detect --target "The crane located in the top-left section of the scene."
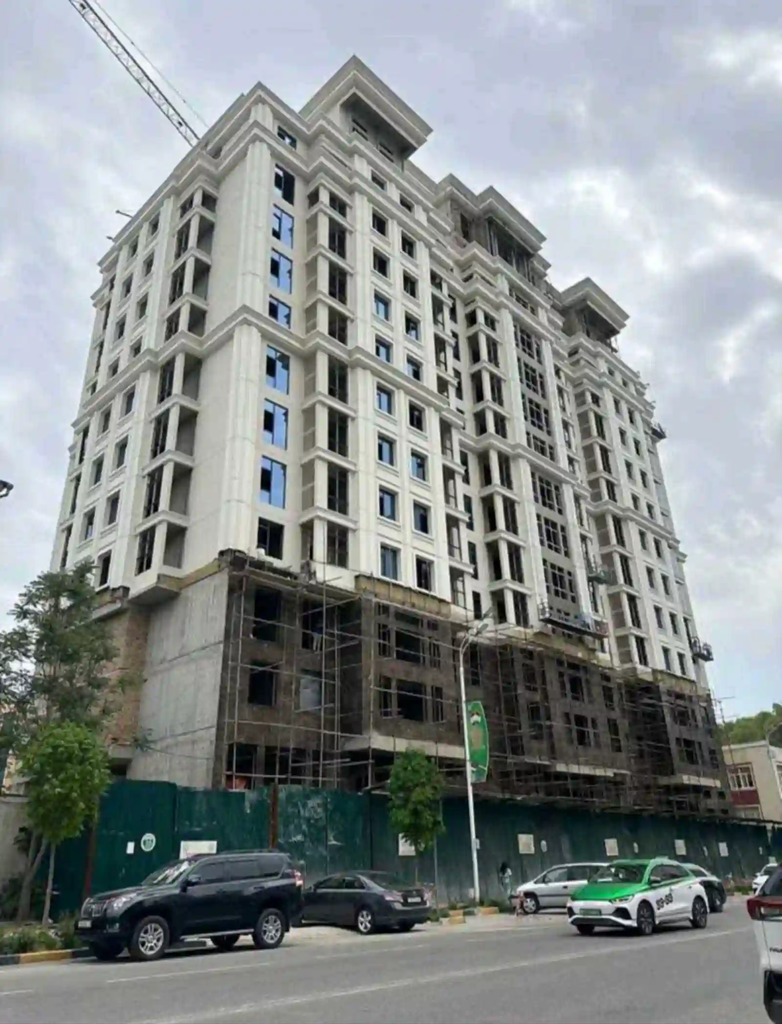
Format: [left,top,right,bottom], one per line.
[64,0,223,147]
